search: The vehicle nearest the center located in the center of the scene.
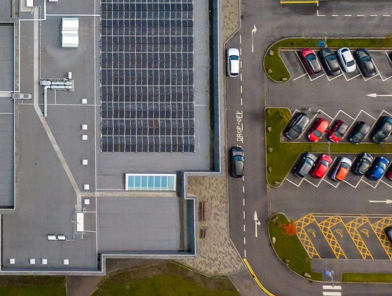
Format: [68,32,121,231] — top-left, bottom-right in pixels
[229,146,246,178]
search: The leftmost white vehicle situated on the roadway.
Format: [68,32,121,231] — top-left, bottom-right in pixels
[226,48,239,77]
